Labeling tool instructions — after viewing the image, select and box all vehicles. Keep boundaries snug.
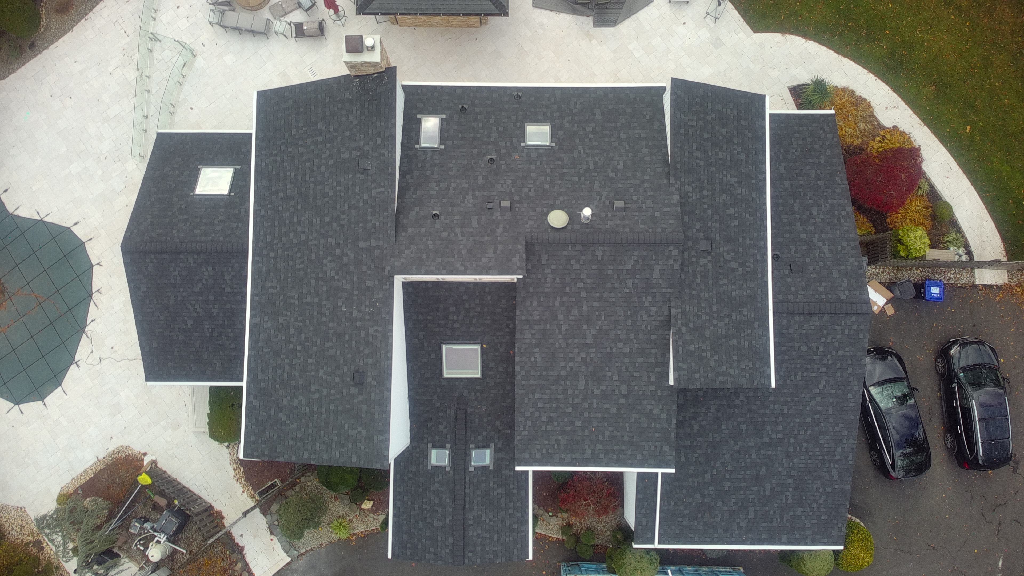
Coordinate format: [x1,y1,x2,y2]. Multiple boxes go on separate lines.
[935,338,1016,471]
[861,347,933,482]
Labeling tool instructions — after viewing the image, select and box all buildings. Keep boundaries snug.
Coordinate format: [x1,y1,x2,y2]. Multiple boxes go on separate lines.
[356,0,509,28]
[120,35,871,567]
